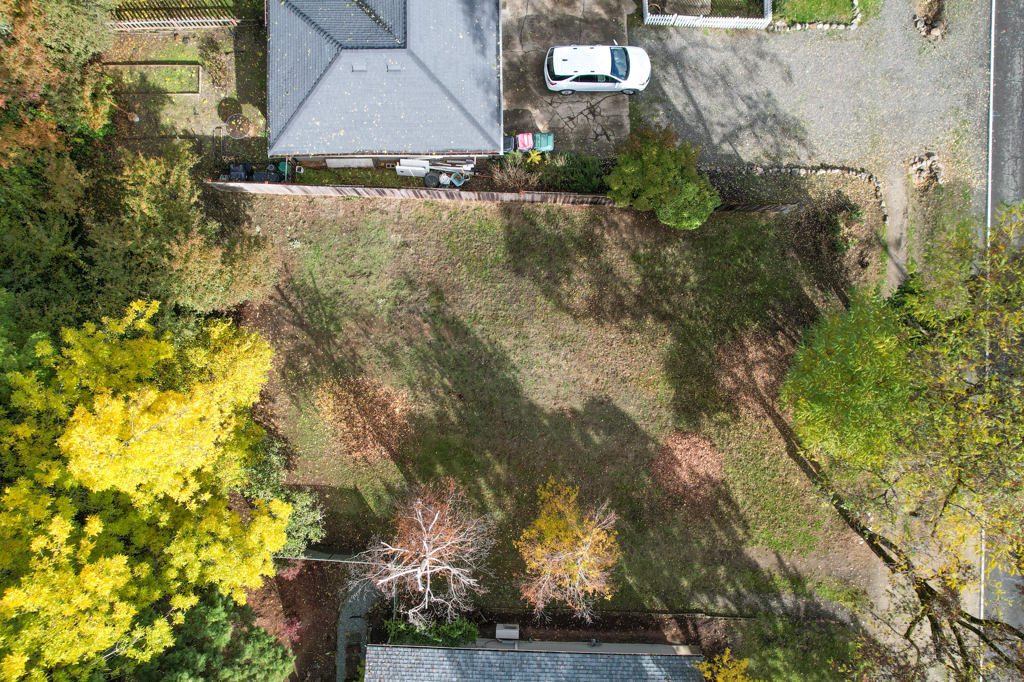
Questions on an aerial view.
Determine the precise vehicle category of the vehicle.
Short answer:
automobile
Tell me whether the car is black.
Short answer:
No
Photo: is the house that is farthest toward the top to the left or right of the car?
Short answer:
left of it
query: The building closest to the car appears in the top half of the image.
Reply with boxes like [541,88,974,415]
[264,0,505,160]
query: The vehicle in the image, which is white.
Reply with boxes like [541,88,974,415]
[544,39,652,97]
